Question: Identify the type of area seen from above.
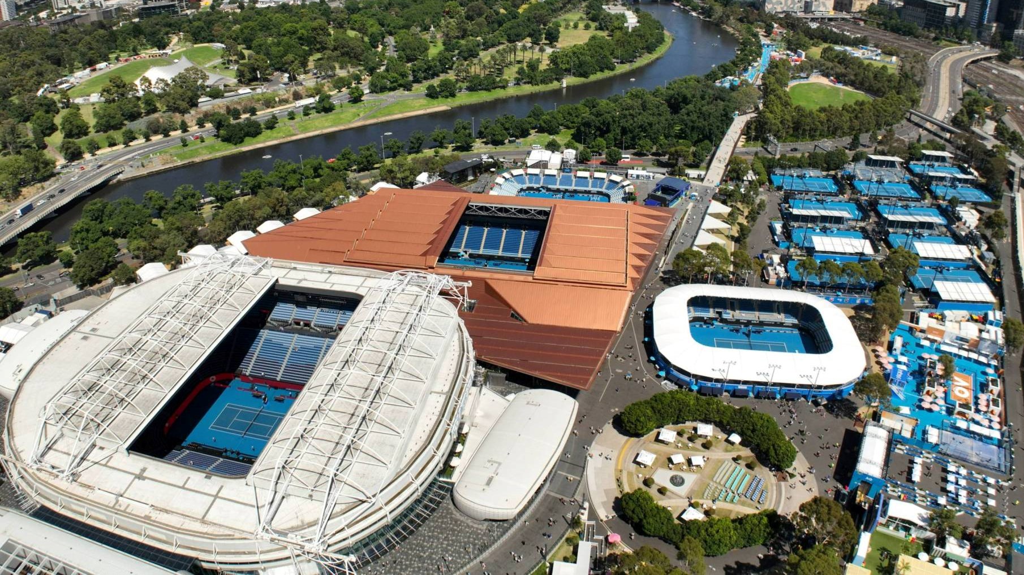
sports ground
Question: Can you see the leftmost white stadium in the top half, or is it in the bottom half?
bottom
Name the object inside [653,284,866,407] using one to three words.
stadium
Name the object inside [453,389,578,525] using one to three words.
building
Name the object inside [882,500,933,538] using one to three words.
tent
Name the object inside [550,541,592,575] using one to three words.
building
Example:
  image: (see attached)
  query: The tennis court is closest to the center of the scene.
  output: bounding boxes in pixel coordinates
[443,257,535,272]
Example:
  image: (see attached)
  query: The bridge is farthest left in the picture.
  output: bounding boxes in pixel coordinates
[0,154,149,229]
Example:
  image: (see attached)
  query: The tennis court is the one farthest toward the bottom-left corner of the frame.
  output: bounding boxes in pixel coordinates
[167,382,308,459]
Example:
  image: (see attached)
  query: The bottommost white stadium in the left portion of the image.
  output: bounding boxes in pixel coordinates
[0,249,481,575]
